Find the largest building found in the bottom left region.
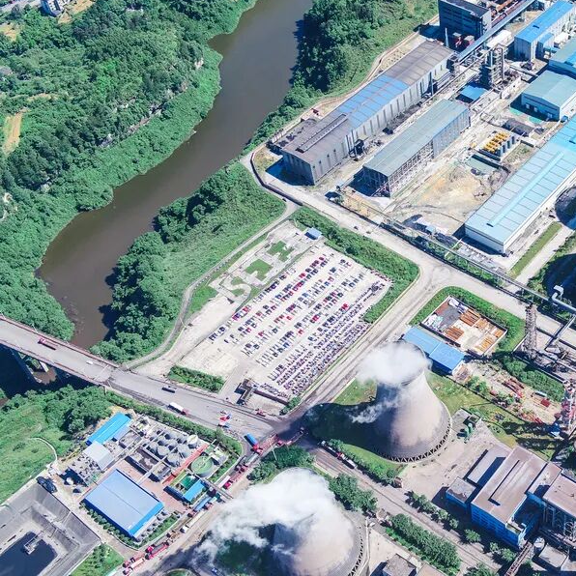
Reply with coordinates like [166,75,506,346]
[83,468,169,542]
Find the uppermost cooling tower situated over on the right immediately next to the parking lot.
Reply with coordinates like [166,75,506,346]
[359,344,453,472]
